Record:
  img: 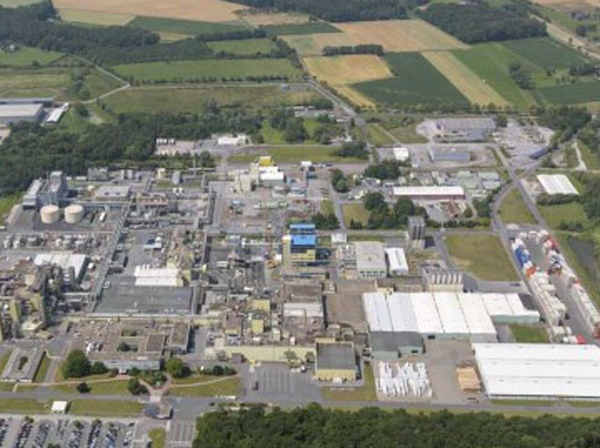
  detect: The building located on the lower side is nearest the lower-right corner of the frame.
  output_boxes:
[472,343,600,402]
